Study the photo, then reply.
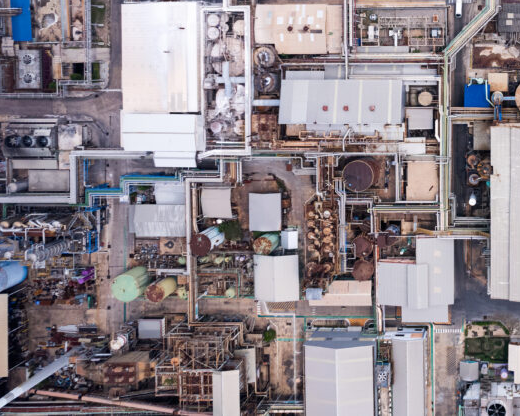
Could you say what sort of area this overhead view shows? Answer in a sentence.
What you see here is an industrial area.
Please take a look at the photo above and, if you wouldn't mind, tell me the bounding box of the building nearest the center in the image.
[249,191,288,231]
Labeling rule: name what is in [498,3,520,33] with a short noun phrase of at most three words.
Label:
building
